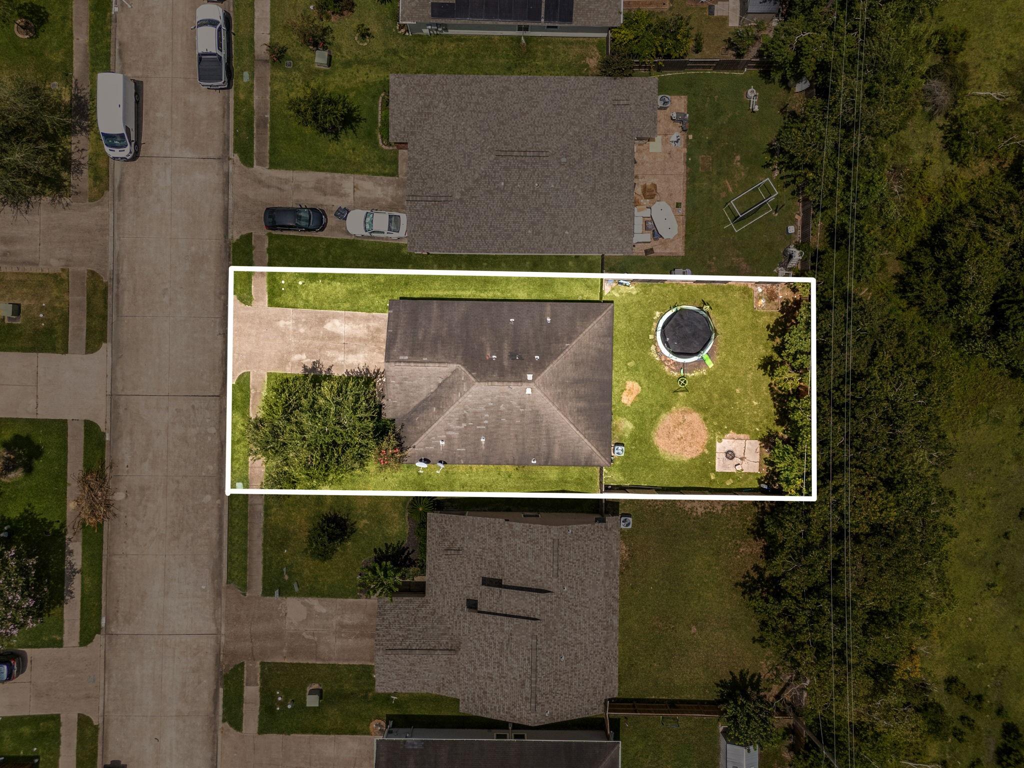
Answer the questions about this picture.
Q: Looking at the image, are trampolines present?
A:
Yes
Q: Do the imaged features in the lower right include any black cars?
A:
No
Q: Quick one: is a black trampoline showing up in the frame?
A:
Yes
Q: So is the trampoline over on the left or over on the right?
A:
right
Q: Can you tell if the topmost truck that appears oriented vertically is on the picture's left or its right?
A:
left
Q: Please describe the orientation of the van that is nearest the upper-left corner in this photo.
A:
vertically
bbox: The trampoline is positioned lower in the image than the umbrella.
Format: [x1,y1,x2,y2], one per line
[656,303,719,383]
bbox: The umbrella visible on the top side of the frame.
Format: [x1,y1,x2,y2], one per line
[651,202,677,239]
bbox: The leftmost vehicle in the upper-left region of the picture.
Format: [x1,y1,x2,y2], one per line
[96,73,140,162]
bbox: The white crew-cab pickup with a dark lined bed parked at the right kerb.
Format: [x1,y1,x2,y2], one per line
[191,6,230,92]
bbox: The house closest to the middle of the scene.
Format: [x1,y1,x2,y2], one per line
[386,300,615,474]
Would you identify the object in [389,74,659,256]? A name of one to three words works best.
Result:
house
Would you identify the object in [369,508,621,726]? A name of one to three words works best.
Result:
house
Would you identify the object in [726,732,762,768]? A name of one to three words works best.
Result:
shed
